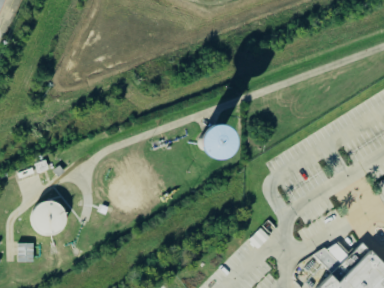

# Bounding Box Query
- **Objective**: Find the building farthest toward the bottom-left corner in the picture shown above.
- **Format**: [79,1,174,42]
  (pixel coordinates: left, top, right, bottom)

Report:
[18,244,34,262]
